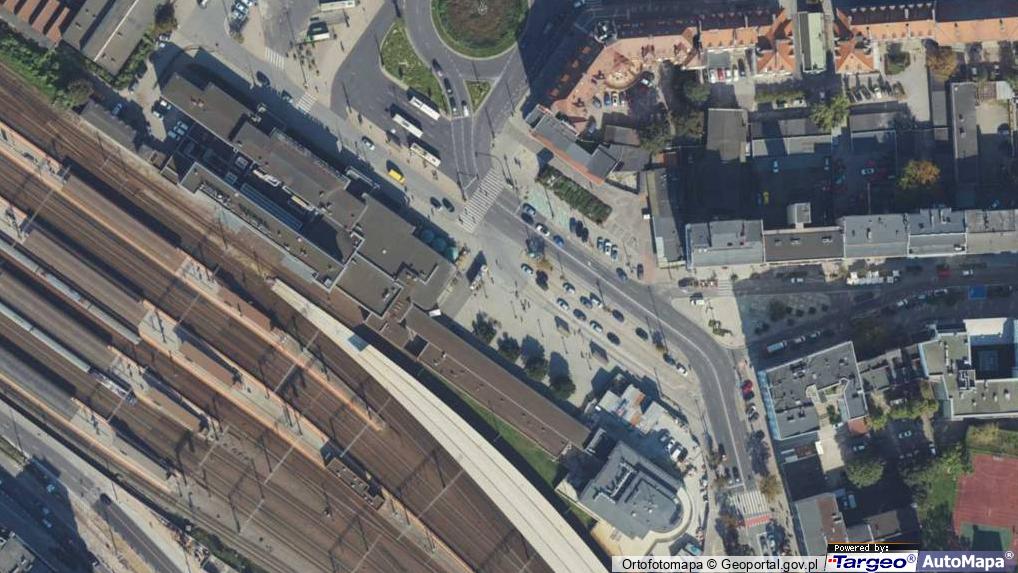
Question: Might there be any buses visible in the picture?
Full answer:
Yes, there's a bus here.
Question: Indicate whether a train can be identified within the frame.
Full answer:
Yes, this view includes a train.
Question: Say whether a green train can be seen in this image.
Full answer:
No, no green train is visible in the view.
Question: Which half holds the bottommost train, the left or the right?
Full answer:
The bottommost train sits on the left side.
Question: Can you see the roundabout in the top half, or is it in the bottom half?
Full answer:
The roundabout is in the top half of the image.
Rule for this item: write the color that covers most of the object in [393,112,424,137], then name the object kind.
white bus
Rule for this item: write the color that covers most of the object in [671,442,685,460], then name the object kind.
white vehicle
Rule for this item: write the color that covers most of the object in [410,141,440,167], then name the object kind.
white bus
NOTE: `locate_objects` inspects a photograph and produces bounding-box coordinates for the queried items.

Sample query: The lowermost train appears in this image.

[0,301,134,404]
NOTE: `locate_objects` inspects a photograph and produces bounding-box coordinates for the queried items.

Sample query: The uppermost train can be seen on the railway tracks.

[0,236,141,343]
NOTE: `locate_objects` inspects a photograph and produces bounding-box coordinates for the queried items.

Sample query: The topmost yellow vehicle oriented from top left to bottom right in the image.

[387,167,406,183]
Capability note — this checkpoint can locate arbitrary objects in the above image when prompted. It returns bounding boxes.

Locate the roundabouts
[401,0,560,90]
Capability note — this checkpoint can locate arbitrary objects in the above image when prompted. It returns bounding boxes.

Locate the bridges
[256,271,608,573]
